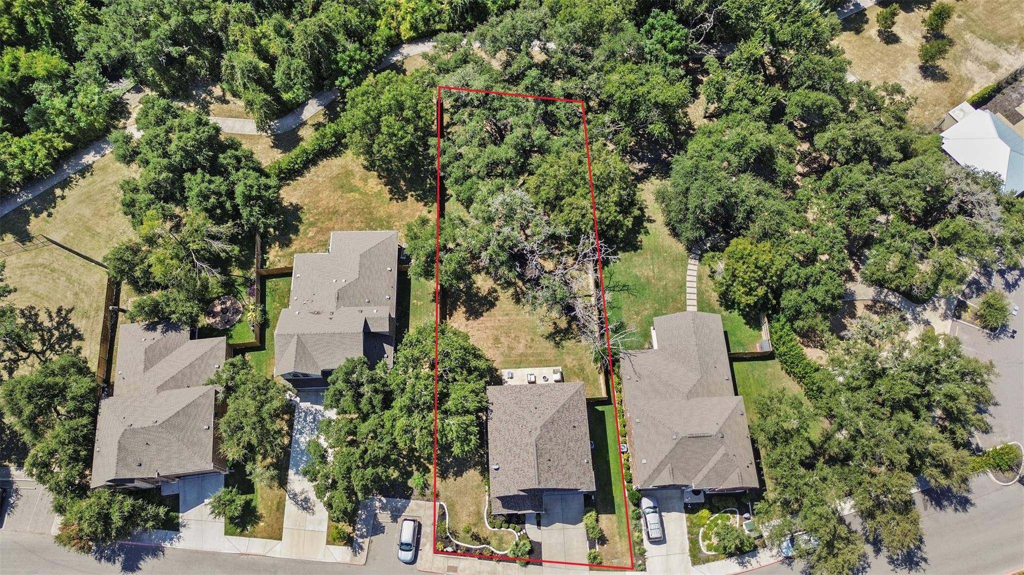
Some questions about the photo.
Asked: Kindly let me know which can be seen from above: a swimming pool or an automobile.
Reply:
automobile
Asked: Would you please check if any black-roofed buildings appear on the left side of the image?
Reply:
No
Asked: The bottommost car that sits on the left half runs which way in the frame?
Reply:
up and down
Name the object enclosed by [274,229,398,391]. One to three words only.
house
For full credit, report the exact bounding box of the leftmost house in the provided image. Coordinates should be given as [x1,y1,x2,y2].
[91,322,231,493]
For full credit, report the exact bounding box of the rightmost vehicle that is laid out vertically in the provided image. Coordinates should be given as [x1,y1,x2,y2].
[638,498,664,544]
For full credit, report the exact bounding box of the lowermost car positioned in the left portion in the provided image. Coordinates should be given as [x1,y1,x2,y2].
[396,517,420,566]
